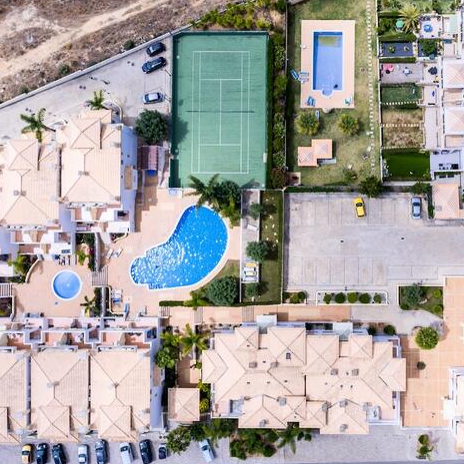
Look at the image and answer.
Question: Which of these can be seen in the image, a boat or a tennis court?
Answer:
tennis court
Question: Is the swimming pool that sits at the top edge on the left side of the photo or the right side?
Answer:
right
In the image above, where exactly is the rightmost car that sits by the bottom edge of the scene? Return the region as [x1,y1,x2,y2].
[200,440,215,463]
